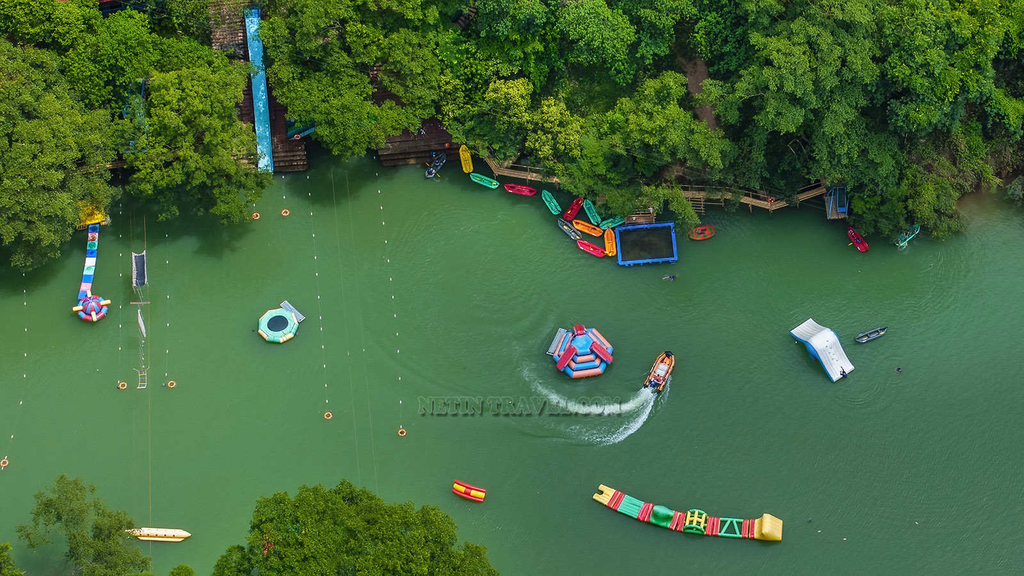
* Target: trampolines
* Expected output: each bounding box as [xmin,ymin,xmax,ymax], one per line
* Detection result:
[258,300,304,344]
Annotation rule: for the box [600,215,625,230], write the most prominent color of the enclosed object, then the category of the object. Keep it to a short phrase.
green boat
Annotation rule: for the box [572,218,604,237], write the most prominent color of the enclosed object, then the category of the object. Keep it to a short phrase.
orange boat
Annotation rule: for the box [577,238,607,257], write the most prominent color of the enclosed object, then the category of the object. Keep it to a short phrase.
red boat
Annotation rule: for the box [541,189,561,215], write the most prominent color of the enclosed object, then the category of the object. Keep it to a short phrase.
green boat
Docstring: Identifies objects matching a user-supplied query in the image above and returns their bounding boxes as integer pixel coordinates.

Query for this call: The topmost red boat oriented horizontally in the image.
[504,183,537,195]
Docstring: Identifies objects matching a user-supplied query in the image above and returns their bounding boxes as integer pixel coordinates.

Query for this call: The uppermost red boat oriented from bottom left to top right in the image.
[565,196,584,220]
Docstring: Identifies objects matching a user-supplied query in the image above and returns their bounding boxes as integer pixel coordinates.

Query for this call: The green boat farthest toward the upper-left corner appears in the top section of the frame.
[470,172,499,189]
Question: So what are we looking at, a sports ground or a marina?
marina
